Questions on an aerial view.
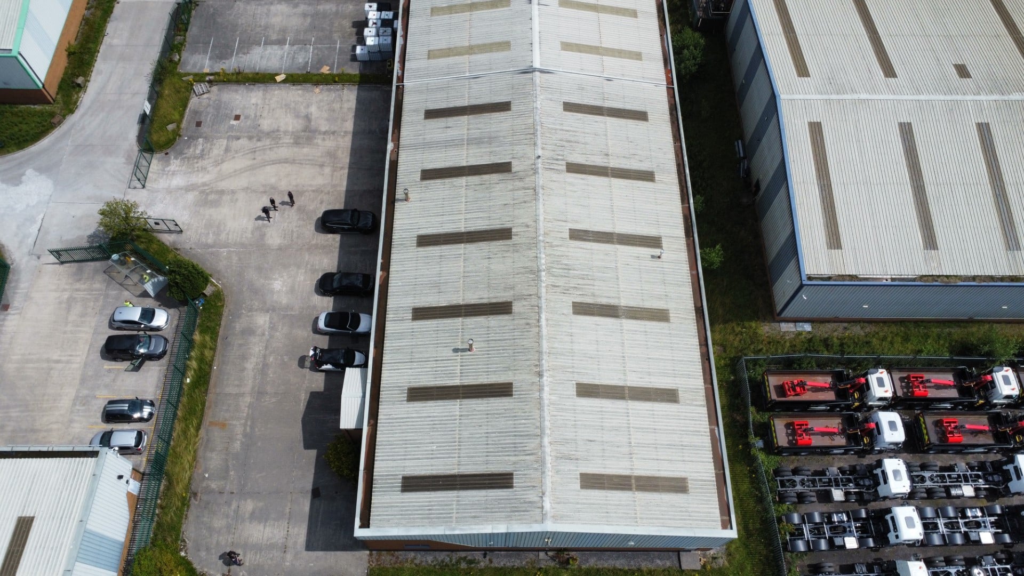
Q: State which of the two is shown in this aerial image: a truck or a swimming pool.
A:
truck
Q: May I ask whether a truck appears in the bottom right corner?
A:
Yes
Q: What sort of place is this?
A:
industrial area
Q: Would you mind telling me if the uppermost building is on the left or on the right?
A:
left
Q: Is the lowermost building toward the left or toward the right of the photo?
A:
left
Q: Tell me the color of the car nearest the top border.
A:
black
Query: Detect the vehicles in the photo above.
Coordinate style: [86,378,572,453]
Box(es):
[774,454,915,504]
[314,308,373,338]
[317,269,376,299]
[918,499,1024,547]
[89,426,154,457]
[103,331,171,372]
[888,364,1024,412]
[918,405,1024,451]
[772,406,910,455]
[308,344,370,374]
[102,396,159,426]
[906,455,1024,501]
[784,500,929,553]
[763,369,897,416]
[110,304,171,334]
[320,207,379,235]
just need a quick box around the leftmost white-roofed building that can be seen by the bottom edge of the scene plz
[0,442,142,576]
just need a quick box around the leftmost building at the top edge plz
[0,0,87,104]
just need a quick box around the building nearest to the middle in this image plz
[340,0,737,552]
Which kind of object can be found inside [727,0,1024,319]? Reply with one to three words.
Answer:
warehouse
